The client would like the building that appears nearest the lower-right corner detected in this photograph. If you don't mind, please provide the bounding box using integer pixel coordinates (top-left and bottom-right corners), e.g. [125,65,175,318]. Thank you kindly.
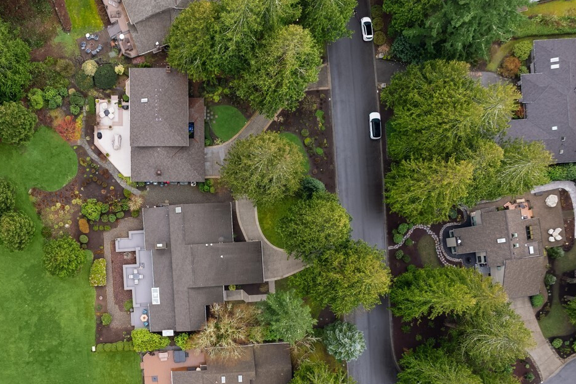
[445,206,549,297]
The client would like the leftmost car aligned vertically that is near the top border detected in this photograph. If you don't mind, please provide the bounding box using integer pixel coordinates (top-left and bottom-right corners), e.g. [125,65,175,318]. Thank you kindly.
[359,15,373,43]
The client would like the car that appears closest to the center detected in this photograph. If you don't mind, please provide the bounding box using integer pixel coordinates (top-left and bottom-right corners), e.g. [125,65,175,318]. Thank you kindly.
[368,112,382,141]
